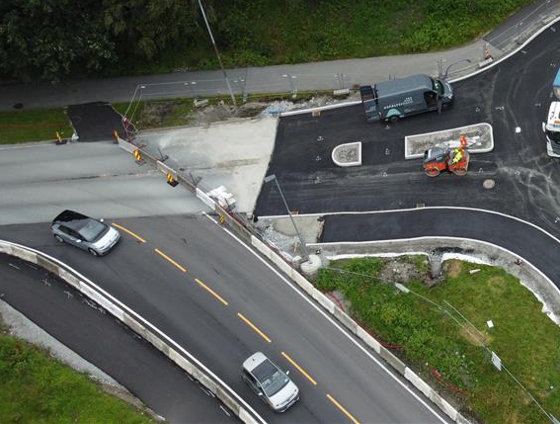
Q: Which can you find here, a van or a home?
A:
van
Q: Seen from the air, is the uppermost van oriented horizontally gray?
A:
Yes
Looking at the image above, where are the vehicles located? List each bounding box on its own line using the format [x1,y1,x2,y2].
[46,210,118,257]
[541,68,560,159]
[362,72,457,120]
[421,133,471,175]
[237,341,301,412]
